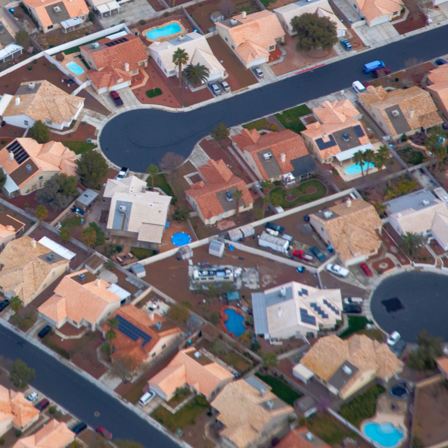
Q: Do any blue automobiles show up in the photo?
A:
Yes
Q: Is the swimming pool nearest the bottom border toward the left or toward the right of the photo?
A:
right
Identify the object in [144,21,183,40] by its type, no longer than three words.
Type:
swimming pool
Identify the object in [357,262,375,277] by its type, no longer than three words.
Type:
car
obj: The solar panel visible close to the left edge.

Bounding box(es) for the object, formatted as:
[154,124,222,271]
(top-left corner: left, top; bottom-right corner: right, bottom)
[6,141,30,164]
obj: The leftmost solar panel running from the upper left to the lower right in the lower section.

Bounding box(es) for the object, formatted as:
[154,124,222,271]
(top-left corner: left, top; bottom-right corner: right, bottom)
[117,316,152,342]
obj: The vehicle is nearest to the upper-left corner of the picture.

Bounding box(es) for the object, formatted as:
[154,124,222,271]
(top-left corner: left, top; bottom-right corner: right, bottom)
[108,90,126,107]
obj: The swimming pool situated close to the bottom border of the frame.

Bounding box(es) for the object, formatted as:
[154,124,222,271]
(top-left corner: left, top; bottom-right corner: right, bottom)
[361,421,405,448]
